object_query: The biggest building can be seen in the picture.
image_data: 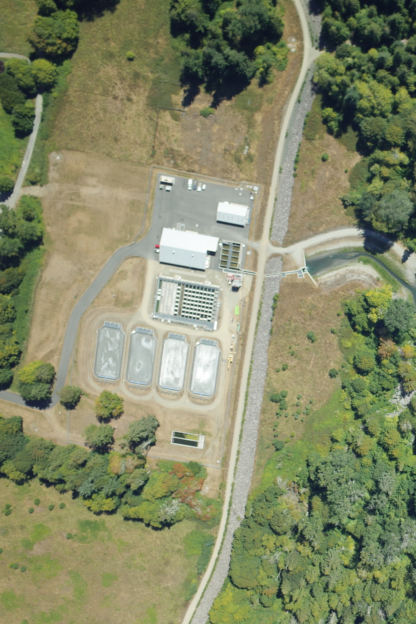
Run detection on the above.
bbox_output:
[159,227,219,269]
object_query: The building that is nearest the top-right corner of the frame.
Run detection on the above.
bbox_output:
[216,202,247,226]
